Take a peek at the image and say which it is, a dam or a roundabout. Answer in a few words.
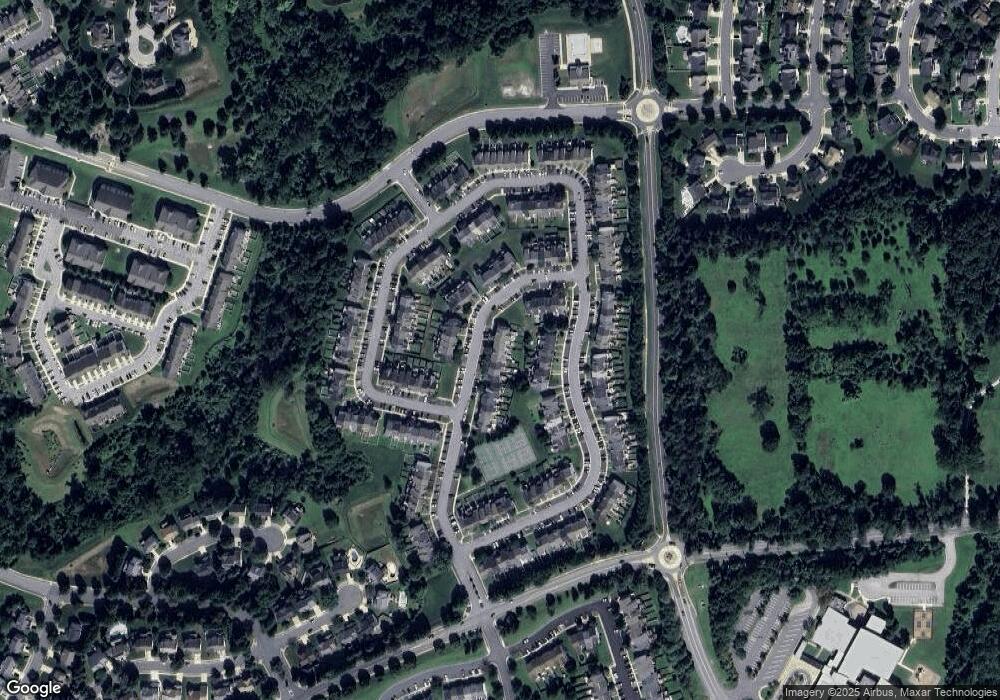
roundabout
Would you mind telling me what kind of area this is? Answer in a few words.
residential area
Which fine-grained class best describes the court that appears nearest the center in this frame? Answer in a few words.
tennis court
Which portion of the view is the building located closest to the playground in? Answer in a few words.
bottom right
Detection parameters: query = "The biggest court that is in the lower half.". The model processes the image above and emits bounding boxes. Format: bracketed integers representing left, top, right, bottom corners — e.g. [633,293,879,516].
[474,427,537,481]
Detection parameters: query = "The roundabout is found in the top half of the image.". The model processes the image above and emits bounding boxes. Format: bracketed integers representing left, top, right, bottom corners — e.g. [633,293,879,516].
[617,85,679,139]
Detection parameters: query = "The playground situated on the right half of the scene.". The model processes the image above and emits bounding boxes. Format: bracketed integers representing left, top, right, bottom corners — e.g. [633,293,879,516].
[911,664,940,692]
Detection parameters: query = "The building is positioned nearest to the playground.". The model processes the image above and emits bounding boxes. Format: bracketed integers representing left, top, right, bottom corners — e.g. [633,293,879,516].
[800,607,905,700]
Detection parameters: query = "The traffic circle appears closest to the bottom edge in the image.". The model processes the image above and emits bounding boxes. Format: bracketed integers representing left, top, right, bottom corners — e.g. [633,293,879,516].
[639,533,696,580]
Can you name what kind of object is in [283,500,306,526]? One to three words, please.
house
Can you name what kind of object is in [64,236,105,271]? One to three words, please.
building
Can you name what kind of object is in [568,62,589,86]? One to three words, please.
building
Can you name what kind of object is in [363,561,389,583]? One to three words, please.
house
